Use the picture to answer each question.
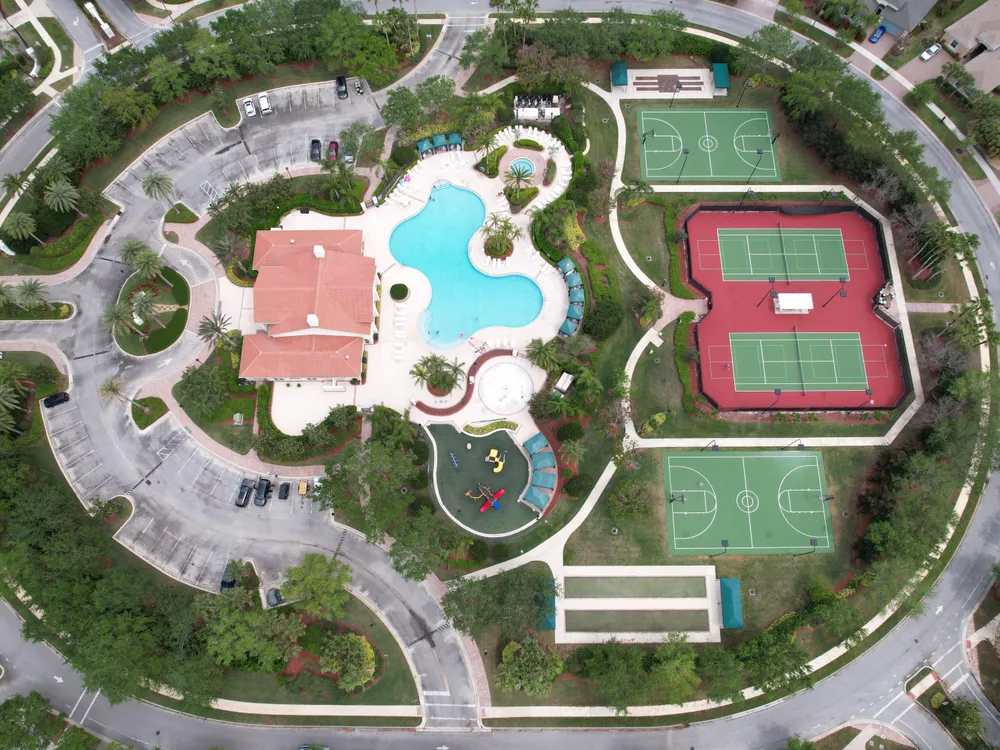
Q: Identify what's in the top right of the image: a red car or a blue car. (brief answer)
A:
blue car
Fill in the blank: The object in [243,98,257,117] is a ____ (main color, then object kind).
white vehicle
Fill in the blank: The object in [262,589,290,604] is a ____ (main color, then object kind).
gray car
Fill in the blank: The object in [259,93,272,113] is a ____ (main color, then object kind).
white vehicle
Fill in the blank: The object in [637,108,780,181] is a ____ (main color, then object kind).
green basketball court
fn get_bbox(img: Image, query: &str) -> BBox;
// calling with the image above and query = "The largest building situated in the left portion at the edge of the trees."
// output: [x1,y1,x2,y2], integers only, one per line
[238,229,383,381]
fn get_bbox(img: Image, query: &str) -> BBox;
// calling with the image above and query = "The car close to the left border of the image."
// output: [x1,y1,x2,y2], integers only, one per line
[43,391,71,408]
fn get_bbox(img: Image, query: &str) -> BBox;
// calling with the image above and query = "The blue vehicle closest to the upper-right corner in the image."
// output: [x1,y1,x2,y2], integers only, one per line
[869,25,886,44]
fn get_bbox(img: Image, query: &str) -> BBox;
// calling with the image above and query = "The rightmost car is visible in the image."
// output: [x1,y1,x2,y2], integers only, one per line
[920,44,941,62]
